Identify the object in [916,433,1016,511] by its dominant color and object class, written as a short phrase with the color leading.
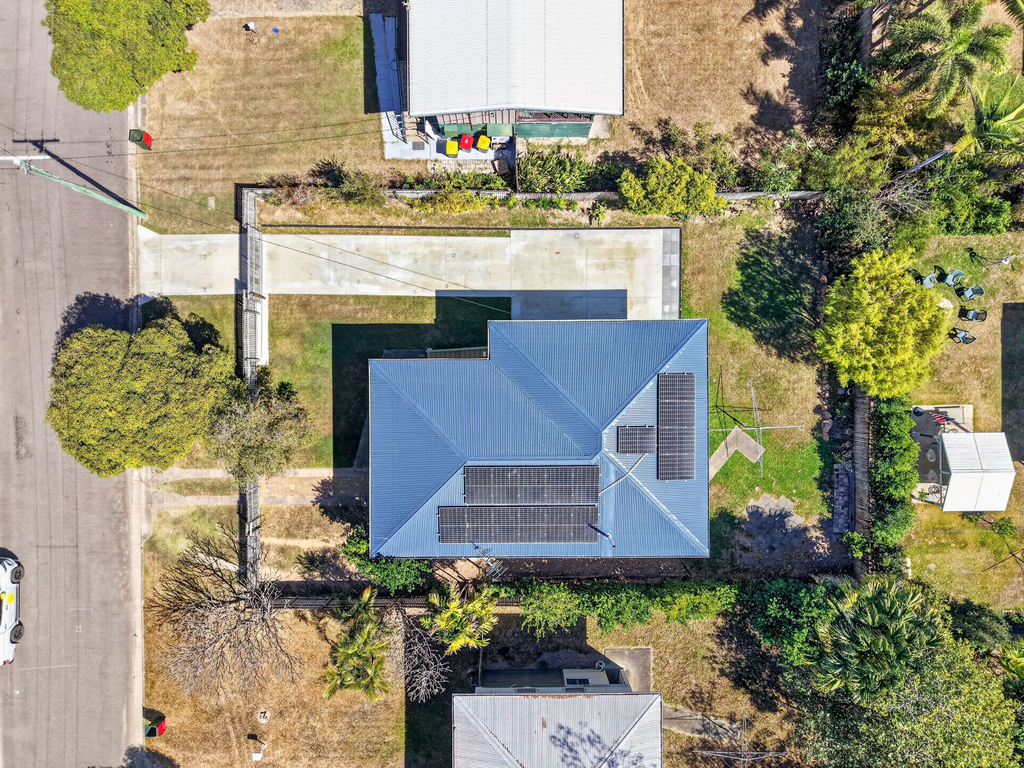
white gazebo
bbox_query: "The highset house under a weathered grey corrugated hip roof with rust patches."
[450,668,665,768]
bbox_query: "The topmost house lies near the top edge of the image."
[405,0,627,138]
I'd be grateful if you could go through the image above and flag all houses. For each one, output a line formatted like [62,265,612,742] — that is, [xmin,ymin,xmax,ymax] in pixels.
[405,0,627,138]
[450,668,665,768]
[366,316,712,561]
